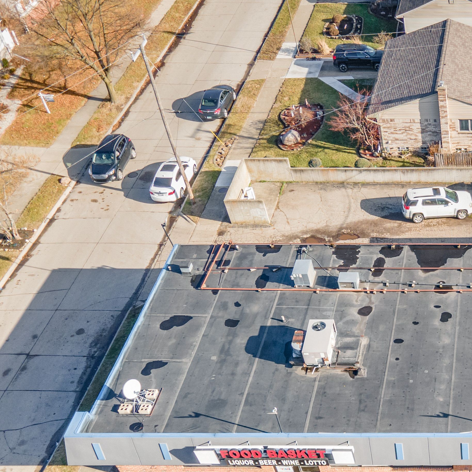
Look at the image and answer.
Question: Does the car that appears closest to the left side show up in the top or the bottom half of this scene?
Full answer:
The car that appears closest to the left side is in the top half of the image.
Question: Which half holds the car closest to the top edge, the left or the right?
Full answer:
It is on the right.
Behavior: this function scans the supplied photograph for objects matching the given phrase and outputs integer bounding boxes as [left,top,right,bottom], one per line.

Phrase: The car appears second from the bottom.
[149,159,194,202]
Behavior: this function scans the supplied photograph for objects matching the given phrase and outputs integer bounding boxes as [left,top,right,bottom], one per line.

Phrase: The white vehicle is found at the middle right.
[401,188,472,226]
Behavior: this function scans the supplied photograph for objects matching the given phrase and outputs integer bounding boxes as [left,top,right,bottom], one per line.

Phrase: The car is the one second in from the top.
[198,85,238,119]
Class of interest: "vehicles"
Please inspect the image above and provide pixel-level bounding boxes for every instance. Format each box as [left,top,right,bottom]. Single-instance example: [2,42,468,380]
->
[401,188,472,226]
[149,159,194,202]
[198,85,238,119]
[333,44,383,71]
[91,131,135,179]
